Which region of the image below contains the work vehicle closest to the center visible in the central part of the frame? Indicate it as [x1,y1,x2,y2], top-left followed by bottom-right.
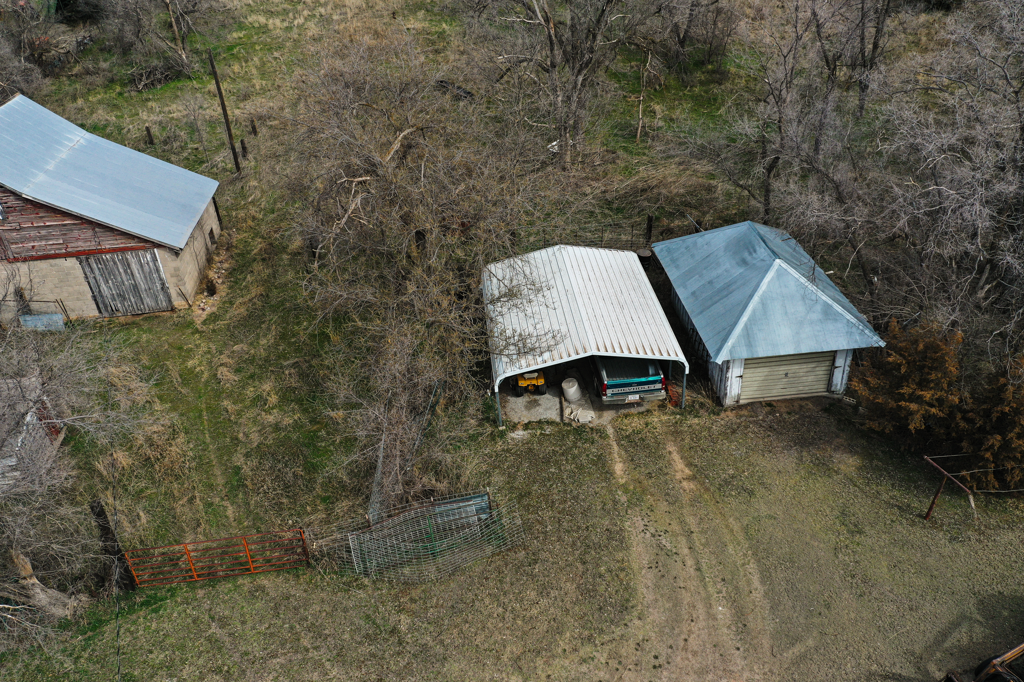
[514,370,547,397]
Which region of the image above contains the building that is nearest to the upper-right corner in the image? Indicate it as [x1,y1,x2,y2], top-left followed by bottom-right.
[652,218,892,408]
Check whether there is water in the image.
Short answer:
No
